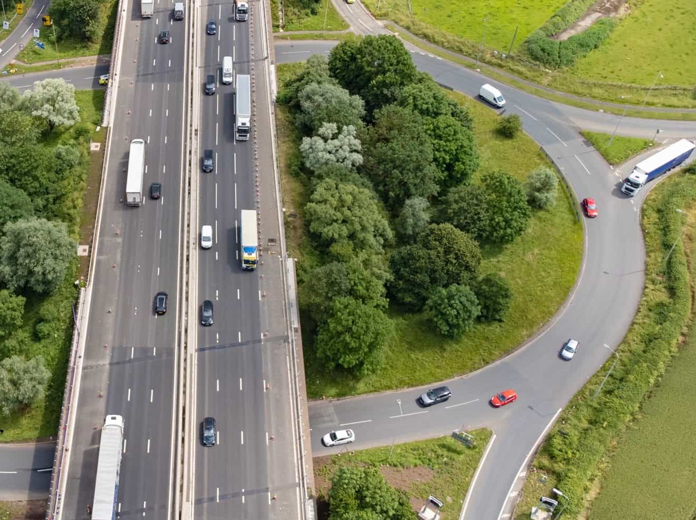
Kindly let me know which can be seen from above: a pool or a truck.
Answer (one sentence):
The one in the frame is a truck.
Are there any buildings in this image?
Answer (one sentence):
No, there's no building here.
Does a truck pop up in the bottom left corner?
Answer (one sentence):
Yes, I can see a truck in the bottom left corner.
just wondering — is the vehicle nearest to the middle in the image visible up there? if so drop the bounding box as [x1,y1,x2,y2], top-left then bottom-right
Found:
[239,209,259,270]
